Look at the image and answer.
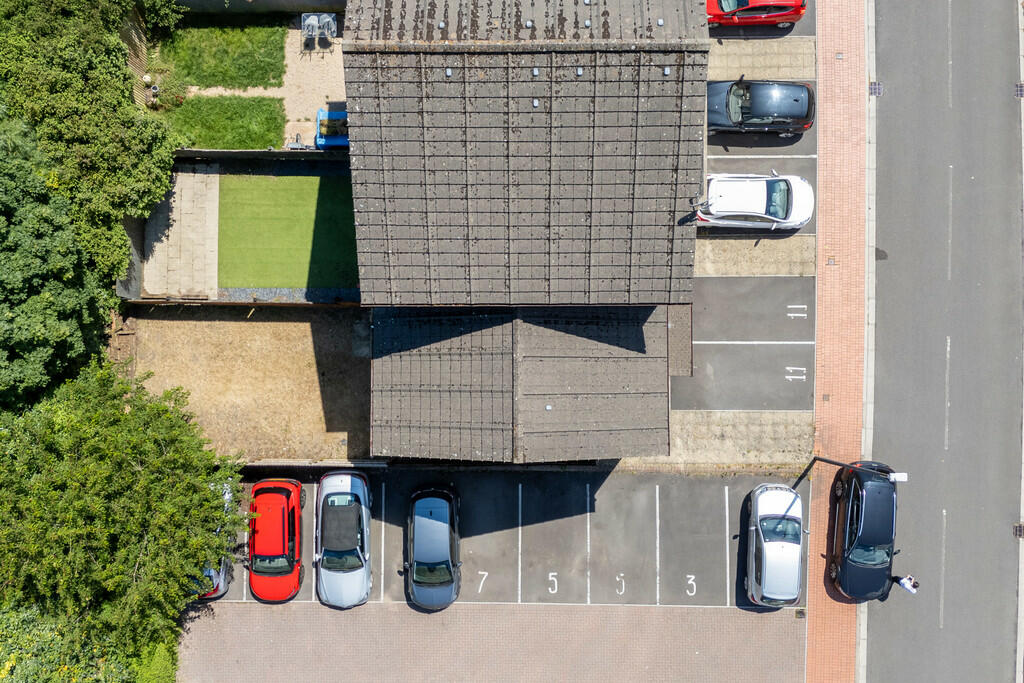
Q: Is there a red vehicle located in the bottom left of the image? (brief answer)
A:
Yes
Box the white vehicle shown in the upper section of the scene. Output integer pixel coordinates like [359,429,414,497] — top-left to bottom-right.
[699,169,814,232]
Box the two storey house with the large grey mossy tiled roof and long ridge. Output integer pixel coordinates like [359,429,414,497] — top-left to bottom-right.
[344,0,713,304]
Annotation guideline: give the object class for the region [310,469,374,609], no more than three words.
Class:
car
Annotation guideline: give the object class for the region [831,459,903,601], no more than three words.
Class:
car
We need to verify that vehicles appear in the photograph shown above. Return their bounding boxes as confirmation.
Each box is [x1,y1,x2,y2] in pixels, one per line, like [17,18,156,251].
[831,459,903,601]
[706,71,816,135]
[310,469,374,609]
[244,477,306,603]
[403,485,466,612]
[699,169,814,232]
[708,0,808,27]
[747,482,811,607]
